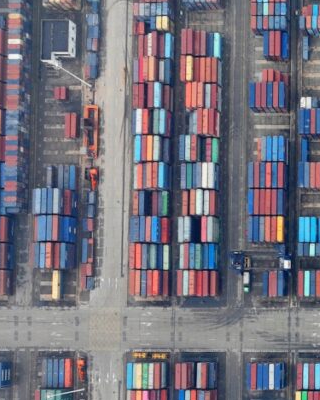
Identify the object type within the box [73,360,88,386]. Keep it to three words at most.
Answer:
work vehicle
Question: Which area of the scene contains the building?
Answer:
top left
